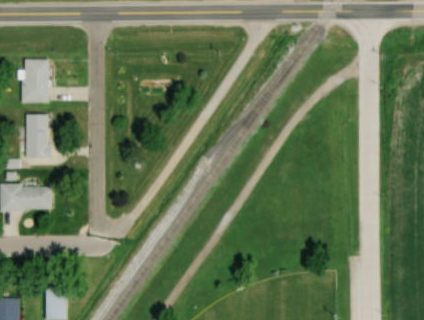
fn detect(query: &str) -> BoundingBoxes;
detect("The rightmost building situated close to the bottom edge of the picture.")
[44,288,68,320]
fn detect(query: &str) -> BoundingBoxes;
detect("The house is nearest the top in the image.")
[17,58,49,102]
